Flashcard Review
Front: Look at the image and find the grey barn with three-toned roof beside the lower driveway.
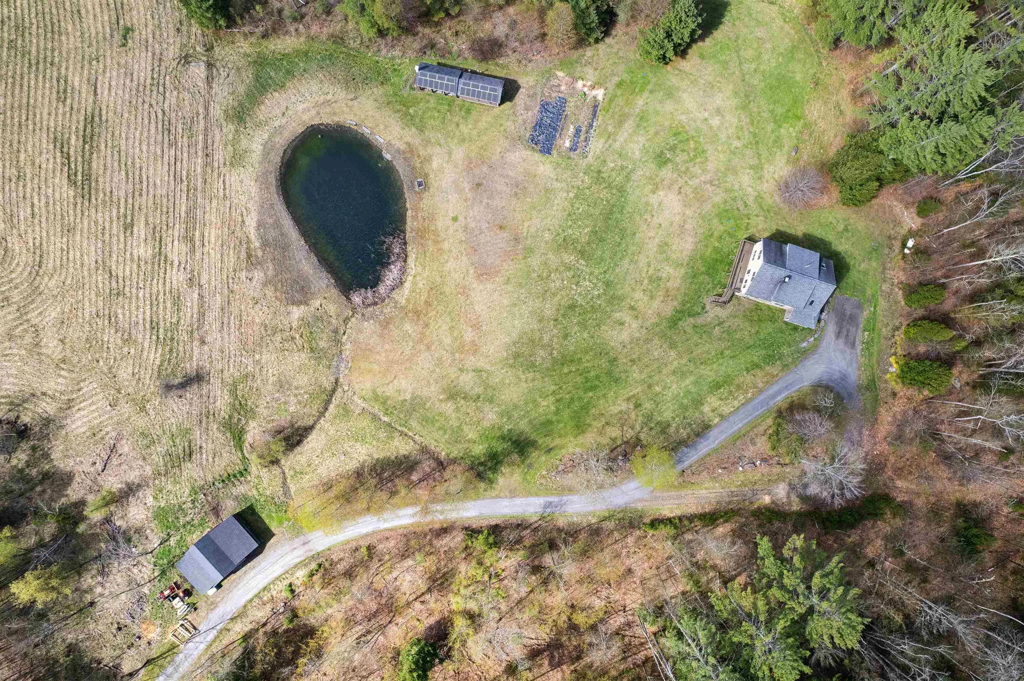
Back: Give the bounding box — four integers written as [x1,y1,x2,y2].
[175,513,262,596]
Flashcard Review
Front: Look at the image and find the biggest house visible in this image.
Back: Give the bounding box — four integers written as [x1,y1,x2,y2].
[708,238,837,330]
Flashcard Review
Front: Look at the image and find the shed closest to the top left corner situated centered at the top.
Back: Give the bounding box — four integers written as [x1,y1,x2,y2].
[416,63,461,98]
